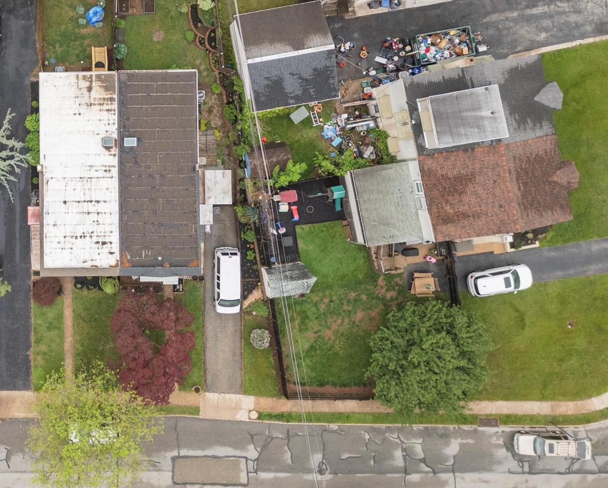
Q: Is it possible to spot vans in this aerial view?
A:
Yes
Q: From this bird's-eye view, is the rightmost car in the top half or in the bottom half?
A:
bottom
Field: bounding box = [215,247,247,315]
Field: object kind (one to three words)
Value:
van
